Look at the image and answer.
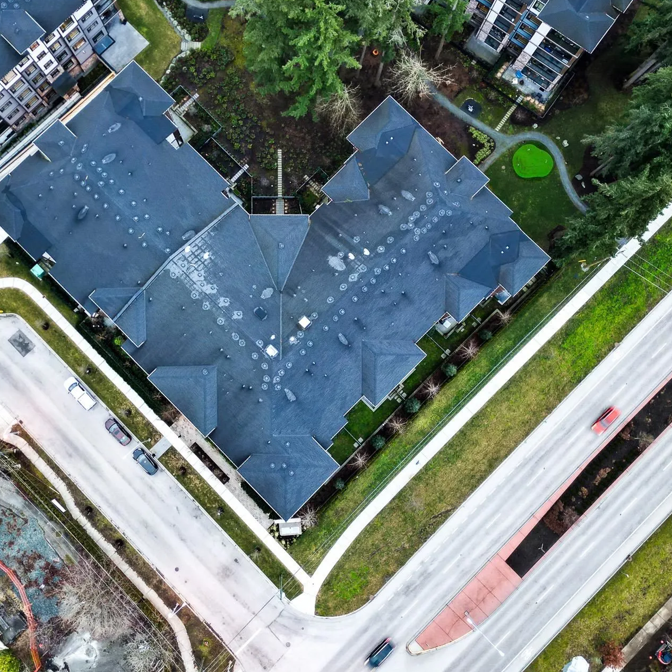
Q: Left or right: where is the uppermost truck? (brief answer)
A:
left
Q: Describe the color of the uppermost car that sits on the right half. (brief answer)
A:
red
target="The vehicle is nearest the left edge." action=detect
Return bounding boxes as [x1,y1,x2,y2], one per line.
[59,374,100,412]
